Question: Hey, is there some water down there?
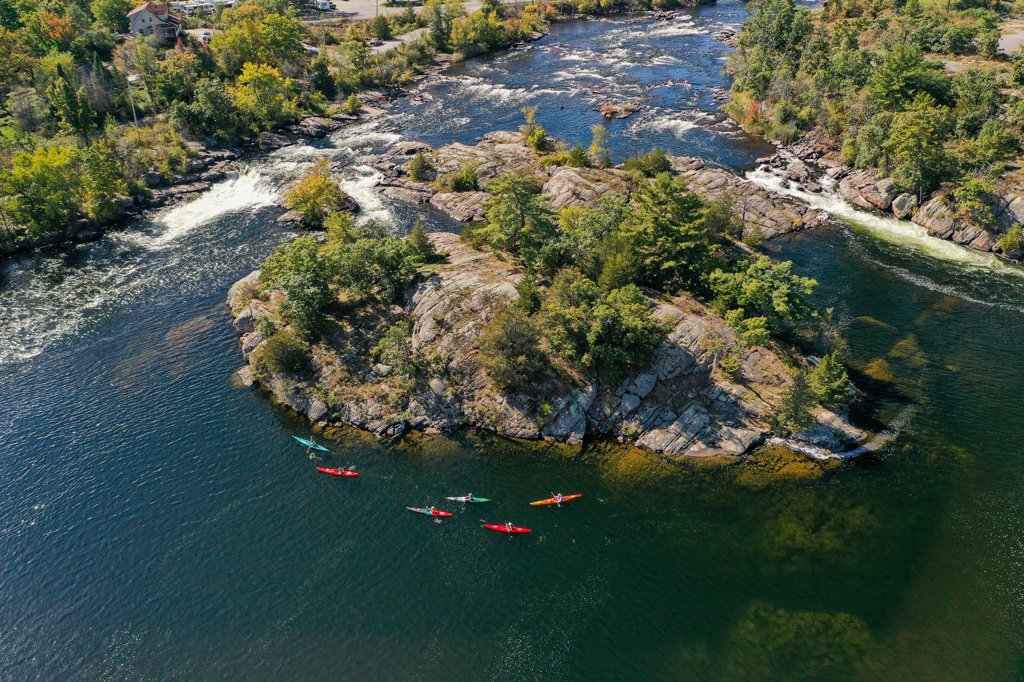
Yes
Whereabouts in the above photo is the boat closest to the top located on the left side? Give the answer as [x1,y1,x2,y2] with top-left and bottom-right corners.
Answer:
[292,435,329,451]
